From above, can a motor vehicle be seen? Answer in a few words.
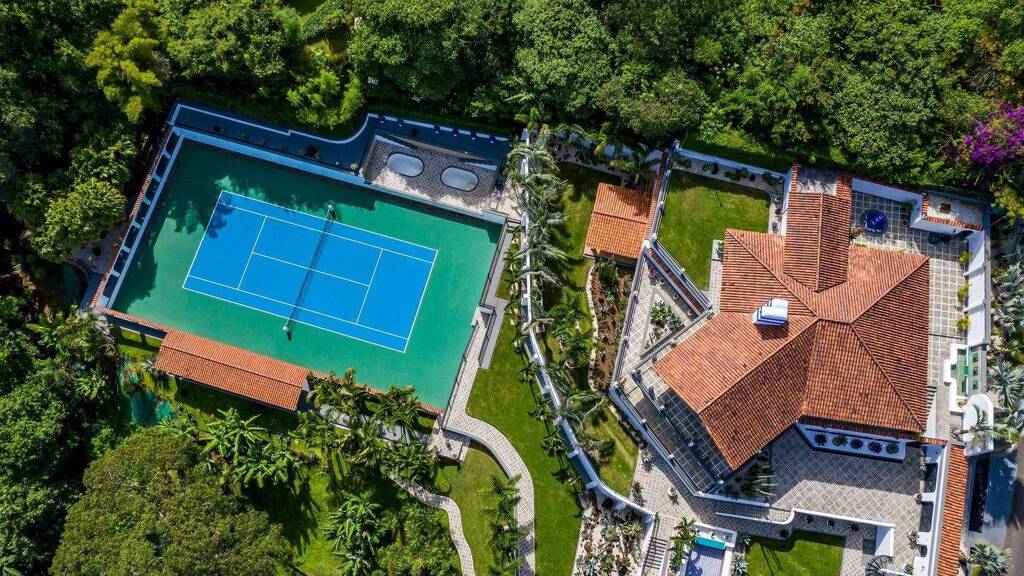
No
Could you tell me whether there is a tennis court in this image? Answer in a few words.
Yes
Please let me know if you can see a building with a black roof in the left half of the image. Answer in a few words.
No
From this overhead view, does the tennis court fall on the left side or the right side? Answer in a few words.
left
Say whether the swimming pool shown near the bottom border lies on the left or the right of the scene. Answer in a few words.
right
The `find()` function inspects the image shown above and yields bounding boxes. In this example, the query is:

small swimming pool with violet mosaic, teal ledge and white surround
[682,525,740,576]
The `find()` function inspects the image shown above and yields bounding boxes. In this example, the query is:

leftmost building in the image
[153,328,314,412]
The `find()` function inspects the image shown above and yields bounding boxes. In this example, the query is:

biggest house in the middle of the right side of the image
[653,166,932,472]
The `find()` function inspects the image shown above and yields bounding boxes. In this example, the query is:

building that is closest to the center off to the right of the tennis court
[584,182,652,261]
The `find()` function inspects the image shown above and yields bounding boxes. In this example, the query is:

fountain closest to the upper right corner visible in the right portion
[864,210,890,233]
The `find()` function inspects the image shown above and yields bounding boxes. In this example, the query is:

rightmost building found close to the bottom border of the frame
[930,446,971,576]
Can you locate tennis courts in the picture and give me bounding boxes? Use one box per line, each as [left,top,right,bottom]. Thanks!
[104,140,503,404]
